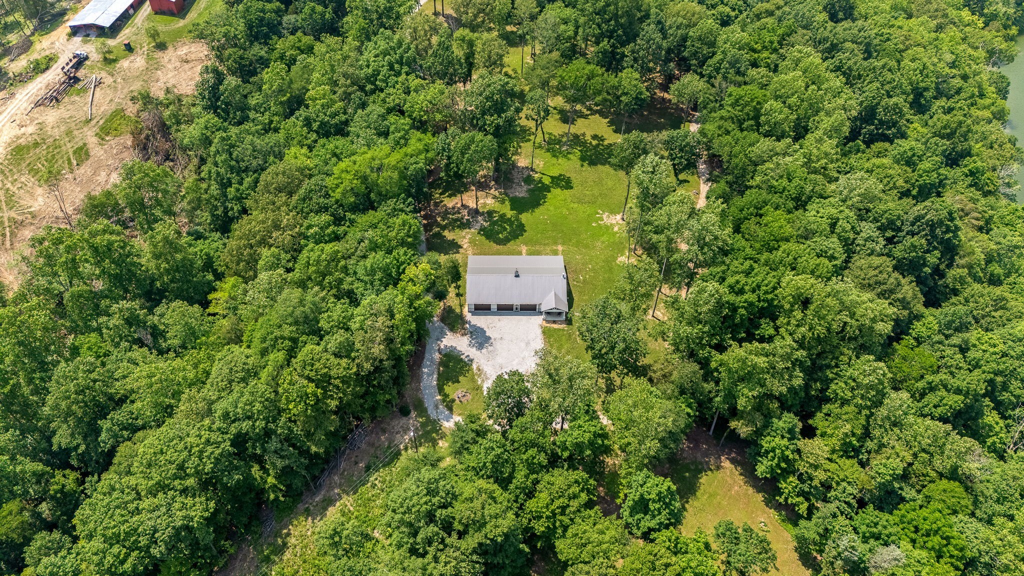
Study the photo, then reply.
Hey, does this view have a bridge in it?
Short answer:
No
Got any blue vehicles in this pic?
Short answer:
No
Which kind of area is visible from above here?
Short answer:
forest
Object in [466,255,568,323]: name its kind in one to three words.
building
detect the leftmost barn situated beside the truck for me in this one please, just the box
[64,0,145,40]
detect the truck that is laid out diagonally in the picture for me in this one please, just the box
[57,52,90,78]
